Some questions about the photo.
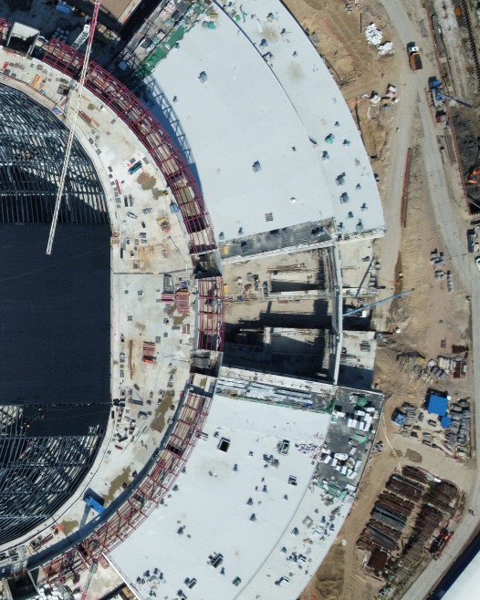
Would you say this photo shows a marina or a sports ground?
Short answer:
sports ground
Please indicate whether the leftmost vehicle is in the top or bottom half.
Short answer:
top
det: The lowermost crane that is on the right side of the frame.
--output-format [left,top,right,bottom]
[340,290,412,323]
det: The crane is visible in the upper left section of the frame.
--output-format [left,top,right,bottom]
[47,0,98,253]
